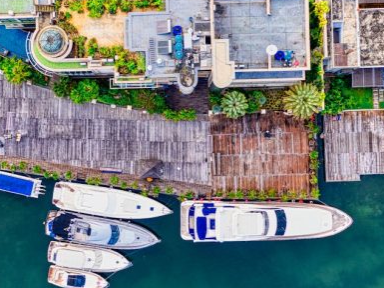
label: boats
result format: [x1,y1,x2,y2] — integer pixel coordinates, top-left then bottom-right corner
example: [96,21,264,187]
[181,201,355,243]
[44,240,133,271]
[42,210,160,248]
[46,264,110,288]
[0,171,48,199]
[50,180,173,219]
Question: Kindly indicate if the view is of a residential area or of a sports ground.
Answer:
residential area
